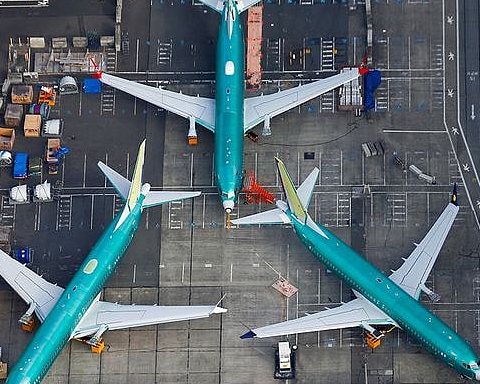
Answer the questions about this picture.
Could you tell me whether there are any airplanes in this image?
Yes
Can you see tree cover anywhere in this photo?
No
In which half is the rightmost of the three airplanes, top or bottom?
bottom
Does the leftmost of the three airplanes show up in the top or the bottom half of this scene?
bottom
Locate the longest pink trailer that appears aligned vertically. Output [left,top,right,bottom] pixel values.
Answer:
[245,7,262,89]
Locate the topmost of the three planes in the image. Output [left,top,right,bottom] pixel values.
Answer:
[92,0,368,213]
